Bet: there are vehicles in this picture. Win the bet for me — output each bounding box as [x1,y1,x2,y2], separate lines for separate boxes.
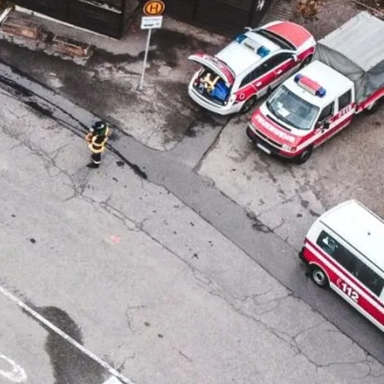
[298,196,384,332]
[182,14,318,124]
[242,3,384,166]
